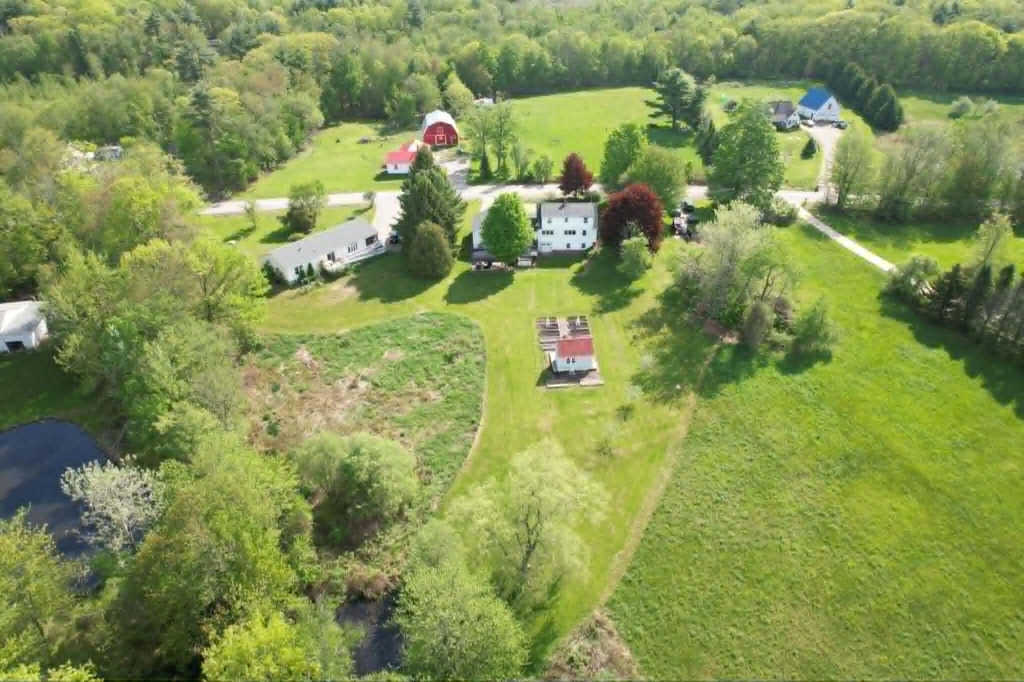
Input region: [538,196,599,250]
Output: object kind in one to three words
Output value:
house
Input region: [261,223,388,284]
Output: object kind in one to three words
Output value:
house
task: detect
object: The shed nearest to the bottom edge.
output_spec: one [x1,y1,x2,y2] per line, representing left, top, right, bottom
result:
[553,334,599,373]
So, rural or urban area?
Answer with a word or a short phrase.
rural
